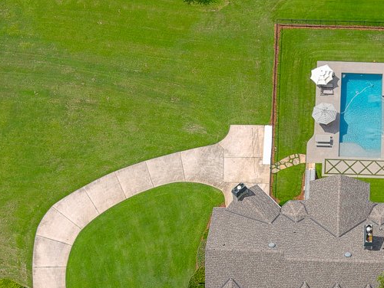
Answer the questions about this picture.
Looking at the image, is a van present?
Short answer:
No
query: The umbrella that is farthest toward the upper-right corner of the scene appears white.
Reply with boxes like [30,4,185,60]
[311,68,332,88]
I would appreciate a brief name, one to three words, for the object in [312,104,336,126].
umbrella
